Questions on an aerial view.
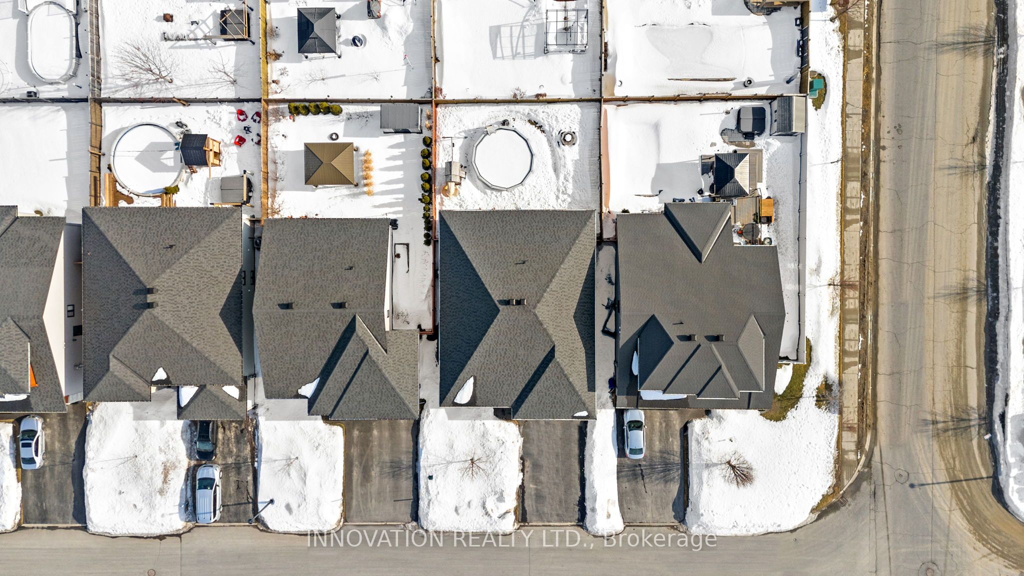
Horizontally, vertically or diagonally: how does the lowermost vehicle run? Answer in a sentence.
What the image shows is the lowermost vehicle lying vertically.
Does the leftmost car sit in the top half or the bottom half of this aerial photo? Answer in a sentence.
The leftmost car sits in the bottom half of the picture.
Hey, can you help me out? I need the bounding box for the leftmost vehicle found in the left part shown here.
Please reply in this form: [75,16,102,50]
[16,414,50,470]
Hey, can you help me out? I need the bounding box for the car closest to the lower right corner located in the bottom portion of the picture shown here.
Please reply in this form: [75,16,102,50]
[622,411,649,460]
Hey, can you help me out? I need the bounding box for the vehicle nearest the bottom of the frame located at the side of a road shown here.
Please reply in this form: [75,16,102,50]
[194,463,225,523]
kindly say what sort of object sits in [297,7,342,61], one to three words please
gazebo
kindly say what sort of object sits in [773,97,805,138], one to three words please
shed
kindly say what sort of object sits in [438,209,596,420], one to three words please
house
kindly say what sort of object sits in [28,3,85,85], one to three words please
swimming pool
